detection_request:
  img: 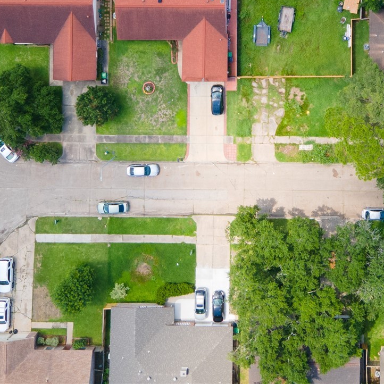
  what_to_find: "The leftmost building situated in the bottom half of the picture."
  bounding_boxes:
[0,332,91,384]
